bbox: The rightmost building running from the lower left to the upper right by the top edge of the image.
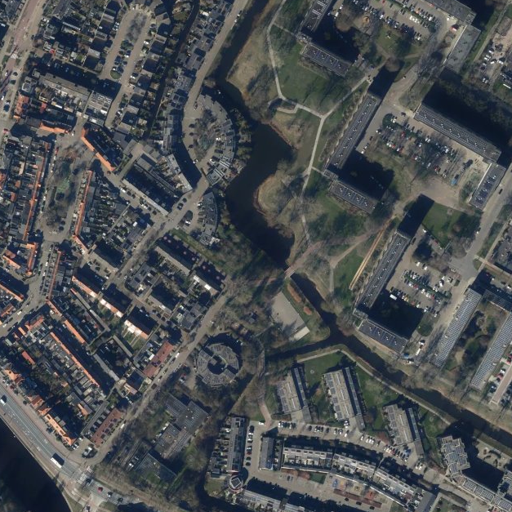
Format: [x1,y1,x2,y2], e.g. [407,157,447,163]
[443,24,482,74]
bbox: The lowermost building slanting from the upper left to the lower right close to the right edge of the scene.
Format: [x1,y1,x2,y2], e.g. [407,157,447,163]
[460,473,512,512]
